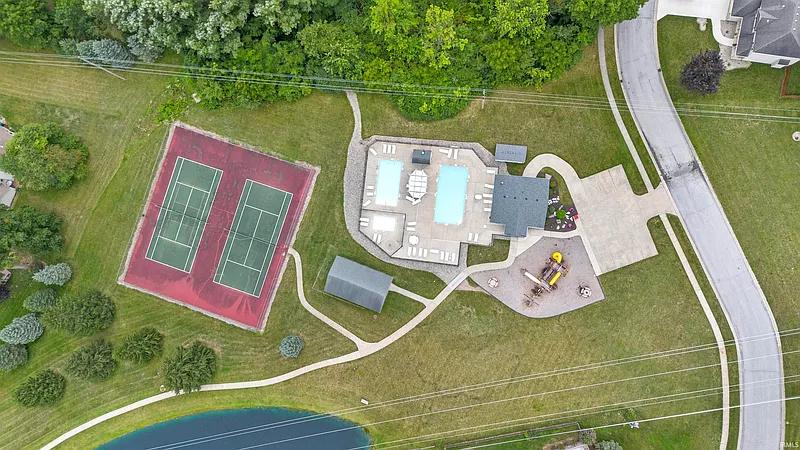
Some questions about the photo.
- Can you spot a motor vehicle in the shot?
No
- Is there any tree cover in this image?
Yes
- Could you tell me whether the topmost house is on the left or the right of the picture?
right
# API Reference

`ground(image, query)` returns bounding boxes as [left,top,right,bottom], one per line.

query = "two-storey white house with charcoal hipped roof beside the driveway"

[725,0,800,69]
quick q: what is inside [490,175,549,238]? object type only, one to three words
building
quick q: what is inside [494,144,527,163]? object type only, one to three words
shed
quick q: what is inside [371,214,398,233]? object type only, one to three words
swimming pool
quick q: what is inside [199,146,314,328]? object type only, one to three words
tennis court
